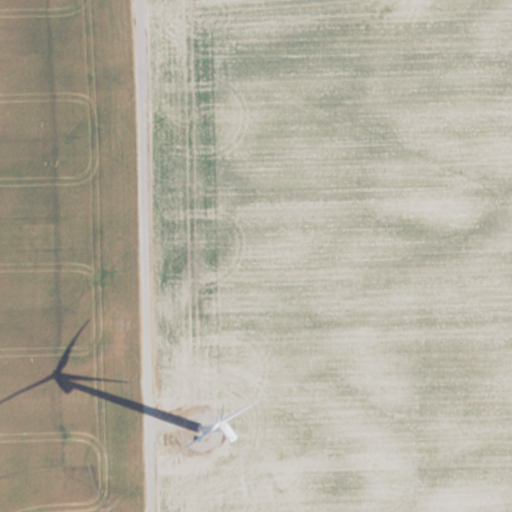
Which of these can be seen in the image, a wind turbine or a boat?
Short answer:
wind turbine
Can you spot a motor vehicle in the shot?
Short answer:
No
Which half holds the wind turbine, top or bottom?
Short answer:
bottom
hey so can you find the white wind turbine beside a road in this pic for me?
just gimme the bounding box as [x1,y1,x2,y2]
[131,372,298,484]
